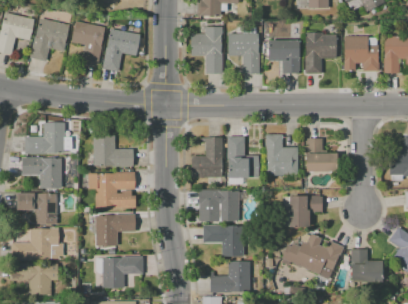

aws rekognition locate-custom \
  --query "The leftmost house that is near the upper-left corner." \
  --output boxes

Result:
[0,11,32,60]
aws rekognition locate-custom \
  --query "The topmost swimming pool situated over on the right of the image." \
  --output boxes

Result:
[310,174,332,186]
